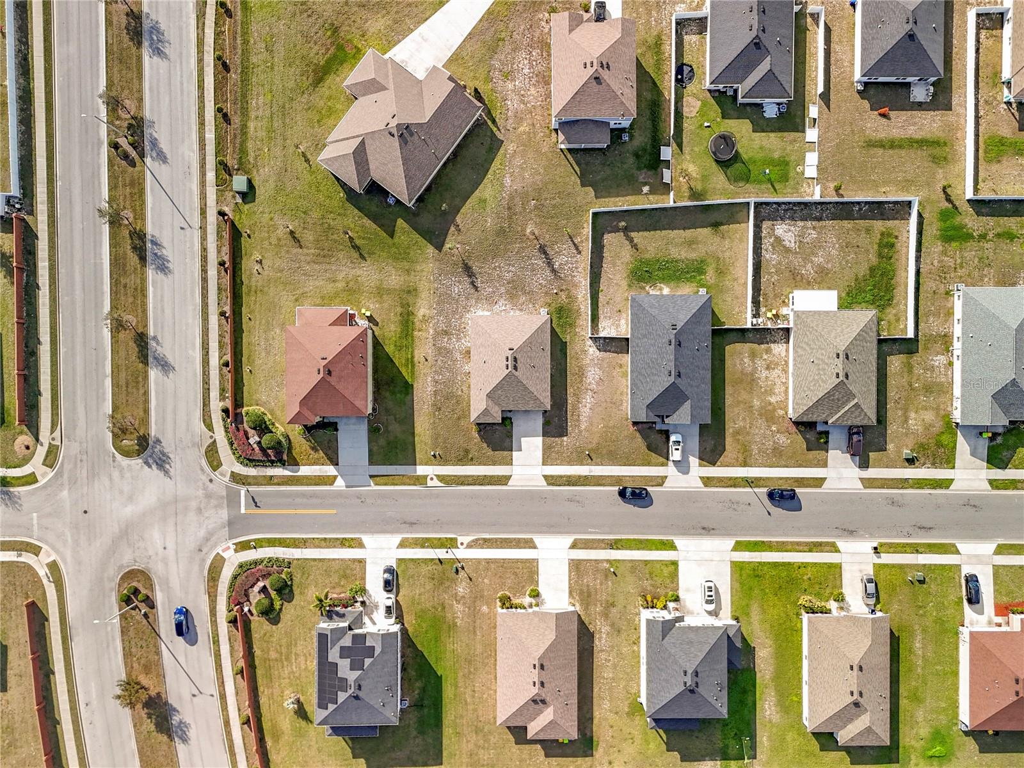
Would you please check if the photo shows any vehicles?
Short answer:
Yes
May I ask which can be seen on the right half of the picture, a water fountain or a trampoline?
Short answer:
trampoline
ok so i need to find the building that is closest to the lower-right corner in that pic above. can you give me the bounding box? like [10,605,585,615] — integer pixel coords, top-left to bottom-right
[961,615,1024,730]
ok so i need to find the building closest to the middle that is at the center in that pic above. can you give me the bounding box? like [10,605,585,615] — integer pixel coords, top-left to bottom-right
[470,315,551,423]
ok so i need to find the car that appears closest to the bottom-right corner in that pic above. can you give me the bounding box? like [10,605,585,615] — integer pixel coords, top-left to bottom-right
[958,570,977,602]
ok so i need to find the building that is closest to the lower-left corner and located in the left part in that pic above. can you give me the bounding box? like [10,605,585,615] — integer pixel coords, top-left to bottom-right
[315,605,401,741]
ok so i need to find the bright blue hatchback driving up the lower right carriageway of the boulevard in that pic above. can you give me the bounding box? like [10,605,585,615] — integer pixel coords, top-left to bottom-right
[172,607,190,636]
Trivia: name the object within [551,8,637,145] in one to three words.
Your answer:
house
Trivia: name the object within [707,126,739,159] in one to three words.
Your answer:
trampoline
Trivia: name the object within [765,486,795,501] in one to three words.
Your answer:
car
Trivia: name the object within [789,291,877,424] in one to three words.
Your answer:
house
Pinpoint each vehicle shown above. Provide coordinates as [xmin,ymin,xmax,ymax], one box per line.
[699,576,715,607]
[958,570,977,602]
[847,424,864,453]
[669,430,684,460]
[617,485,647,500]
[382,562,396,590]
[172,607,190,636]
[765,486,795,501]
[383,590,397,621]
[858,572,875,603]
[593,0,608,22]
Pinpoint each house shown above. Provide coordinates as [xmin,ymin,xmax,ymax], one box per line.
[789,291,877,424]
[470,315,551,423]
[315,605,401,741]
[855,0,944,82]
[803,612,890,746]
[952,287,1024,425]
[496,607,578,740]
[1002,0,1024,102]
[707,0,794,103]
[317,48,484,207]
[629,294,712,424]
[961,615,1024,730]
[286,307,372,424]
[642,609,742,732]
[551,8,637,145]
